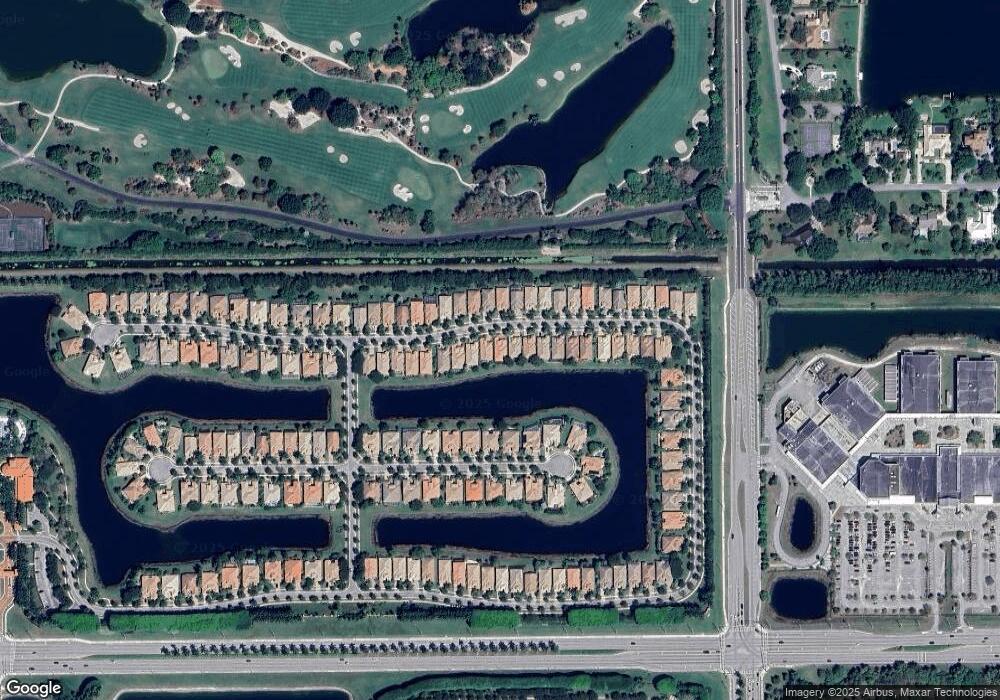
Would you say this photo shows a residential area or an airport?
residential area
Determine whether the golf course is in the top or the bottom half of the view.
top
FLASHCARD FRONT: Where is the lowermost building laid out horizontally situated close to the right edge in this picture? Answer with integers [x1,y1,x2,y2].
[860,447,1000,509]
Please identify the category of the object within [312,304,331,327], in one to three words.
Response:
house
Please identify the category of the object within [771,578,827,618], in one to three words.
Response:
pond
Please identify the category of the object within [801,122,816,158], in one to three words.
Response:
tennis court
